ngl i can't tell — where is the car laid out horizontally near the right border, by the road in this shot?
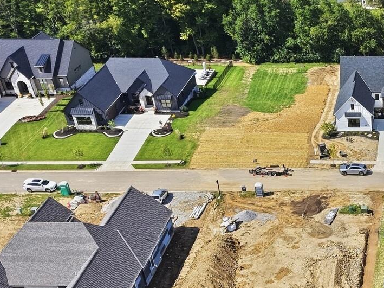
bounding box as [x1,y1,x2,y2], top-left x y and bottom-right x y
[339,162,368,176]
